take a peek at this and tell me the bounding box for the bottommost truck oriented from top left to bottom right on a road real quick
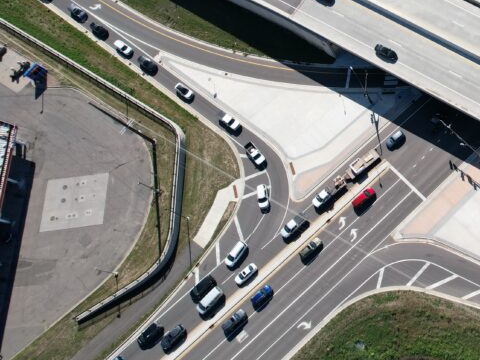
[244,144,266,168]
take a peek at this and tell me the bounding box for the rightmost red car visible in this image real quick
[351,186,375,209]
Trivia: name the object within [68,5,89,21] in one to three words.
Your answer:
car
